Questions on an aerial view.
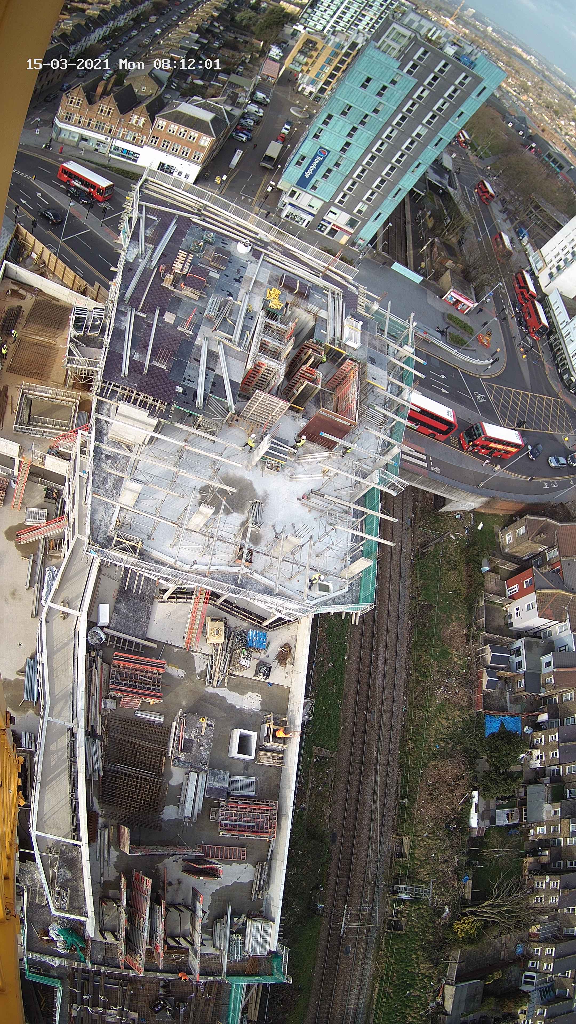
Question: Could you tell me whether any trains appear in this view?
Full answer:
No, the photo shows no train.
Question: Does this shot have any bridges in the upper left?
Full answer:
No, in the upper left there is no bridge.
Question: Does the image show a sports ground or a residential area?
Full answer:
The area seen from above is a residential area.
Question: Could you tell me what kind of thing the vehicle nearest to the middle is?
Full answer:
I'd say the vehicle nearest to the middle is a bus.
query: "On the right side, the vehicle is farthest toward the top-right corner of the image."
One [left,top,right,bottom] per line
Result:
[454,130,471,151]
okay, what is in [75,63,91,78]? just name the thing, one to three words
car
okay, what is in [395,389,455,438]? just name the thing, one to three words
bus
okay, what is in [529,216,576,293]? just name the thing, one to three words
building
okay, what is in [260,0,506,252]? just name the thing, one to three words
building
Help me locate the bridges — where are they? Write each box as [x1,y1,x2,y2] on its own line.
[387,457,492,512]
